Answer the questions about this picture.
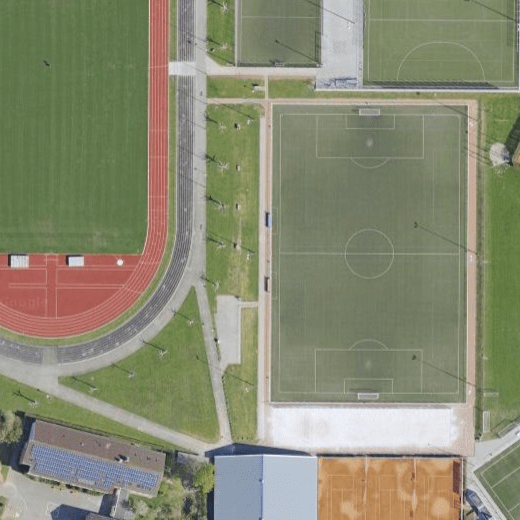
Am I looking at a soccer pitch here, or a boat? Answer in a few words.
soccer pitch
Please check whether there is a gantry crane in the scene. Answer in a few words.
No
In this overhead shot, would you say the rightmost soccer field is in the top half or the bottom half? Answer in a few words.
bottom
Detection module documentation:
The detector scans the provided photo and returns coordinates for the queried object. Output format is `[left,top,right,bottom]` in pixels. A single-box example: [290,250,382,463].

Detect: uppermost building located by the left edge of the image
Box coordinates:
[24,420,165,497]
